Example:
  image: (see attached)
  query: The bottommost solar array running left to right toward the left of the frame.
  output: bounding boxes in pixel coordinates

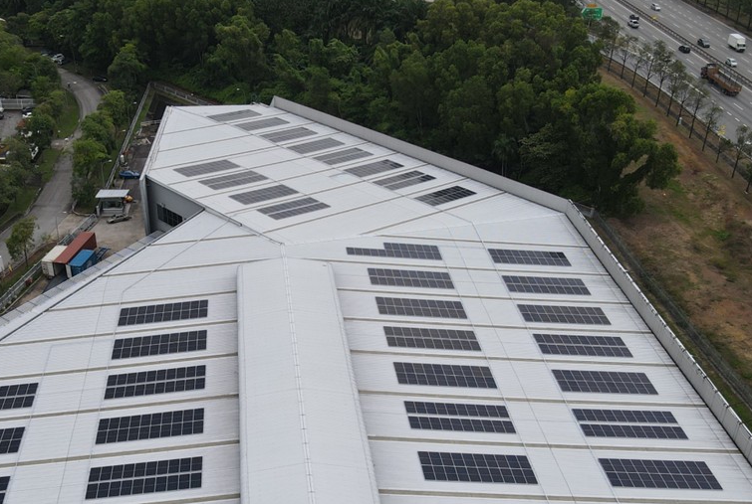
[85,456,203,498]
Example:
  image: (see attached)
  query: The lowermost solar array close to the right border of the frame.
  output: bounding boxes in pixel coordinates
[598,457,723,489]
